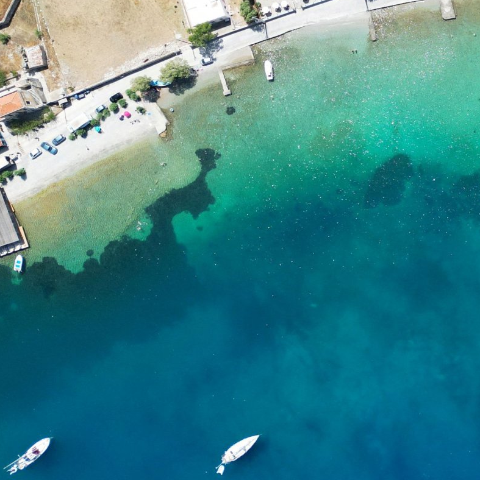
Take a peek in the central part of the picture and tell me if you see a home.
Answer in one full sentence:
No, I can find no home in the central part of the picture.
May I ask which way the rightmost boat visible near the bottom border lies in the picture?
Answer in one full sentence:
I'd say the rightmost boat visible near the bottom border is aligned at an angle in the picture.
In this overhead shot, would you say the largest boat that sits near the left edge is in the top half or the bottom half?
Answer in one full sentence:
You can find the largest boat that sits near the left edge in the bottom half.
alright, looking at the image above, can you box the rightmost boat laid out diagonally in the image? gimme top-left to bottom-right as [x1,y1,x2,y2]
[222,436,258,466]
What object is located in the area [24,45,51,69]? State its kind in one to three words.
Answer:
house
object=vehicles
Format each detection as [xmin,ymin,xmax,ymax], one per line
[62,112,92,133]
[50,133,66,145]
[199,56,214,66]
[0,151,18,169]
[38,141,57,154]
[27,148,42,160]
[106,92,123,102]
[92,102,107,114]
